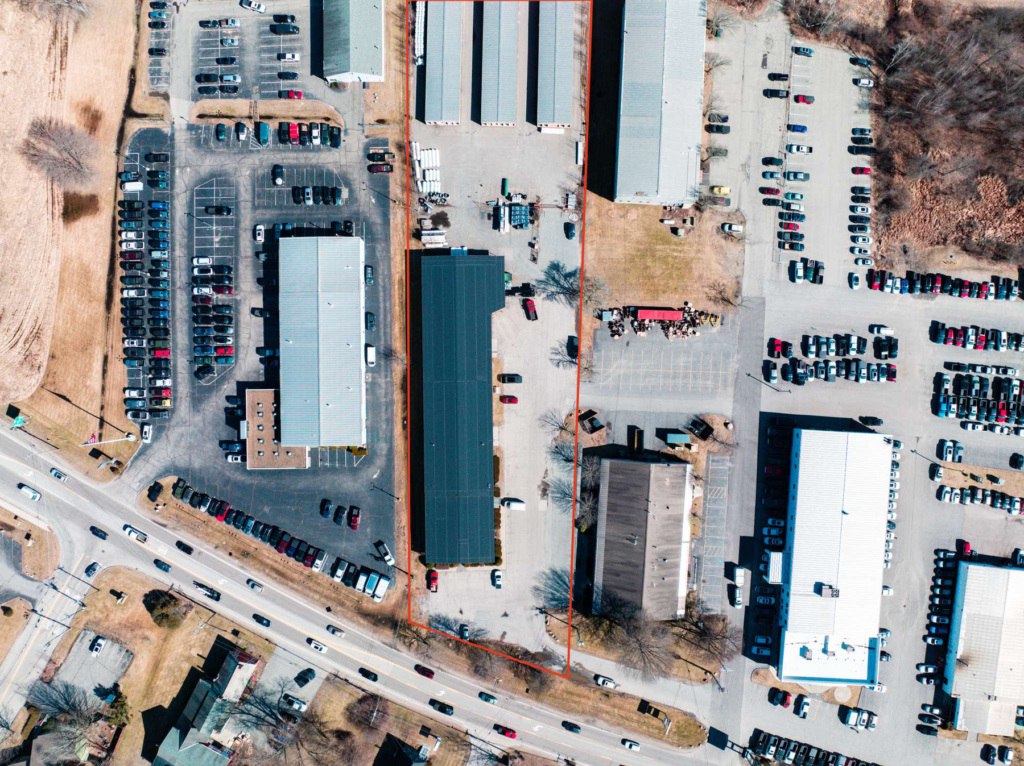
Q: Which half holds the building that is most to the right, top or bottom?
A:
bottom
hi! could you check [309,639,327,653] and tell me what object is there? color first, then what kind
white car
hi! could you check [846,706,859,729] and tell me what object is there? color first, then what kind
white vehicle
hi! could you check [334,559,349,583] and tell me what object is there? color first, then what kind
white vehicle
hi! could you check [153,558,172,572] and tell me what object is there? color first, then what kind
blue car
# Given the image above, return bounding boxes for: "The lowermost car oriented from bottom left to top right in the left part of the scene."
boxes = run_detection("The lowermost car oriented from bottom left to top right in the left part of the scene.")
[296,670,315,685]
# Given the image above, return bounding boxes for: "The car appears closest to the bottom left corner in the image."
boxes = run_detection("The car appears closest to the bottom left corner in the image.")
[90,637,105,656]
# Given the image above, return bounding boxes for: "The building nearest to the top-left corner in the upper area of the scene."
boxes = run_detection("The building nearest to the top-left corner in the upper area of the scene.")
[323,0,385,87]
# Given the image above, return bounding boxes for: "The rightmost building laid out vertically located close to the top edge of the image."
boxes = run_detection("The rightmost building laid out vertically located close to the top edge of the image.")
[614,0,707,204]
